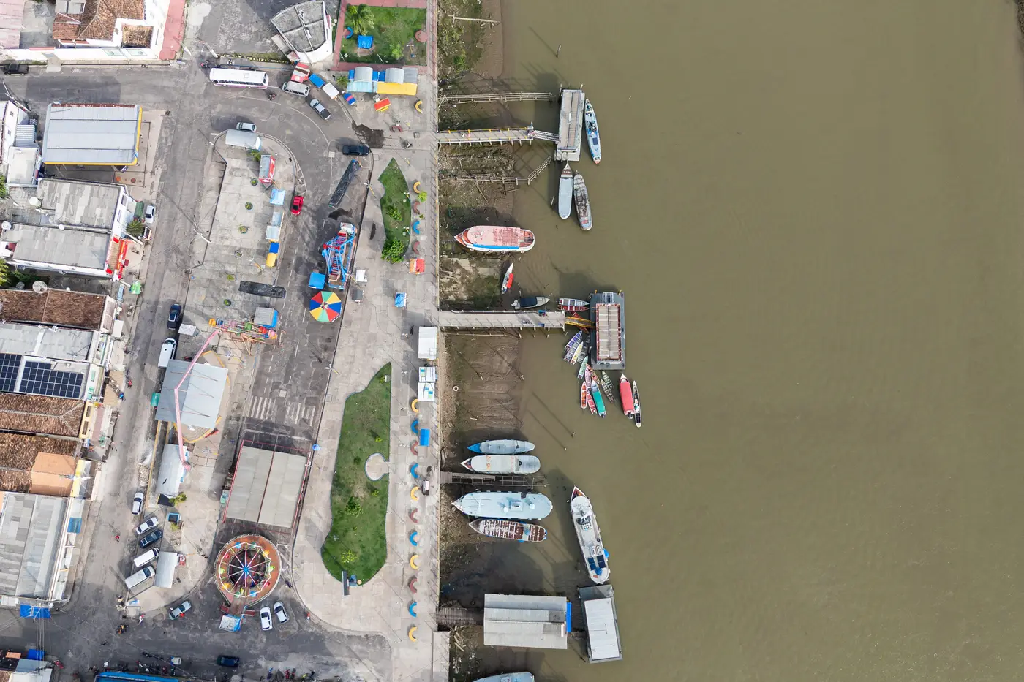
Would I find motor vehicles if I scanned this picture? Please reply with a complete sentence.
Yes, a motor vehicle appears in the view.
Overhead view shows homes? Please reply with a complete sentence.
Yes, a home can be made out from above.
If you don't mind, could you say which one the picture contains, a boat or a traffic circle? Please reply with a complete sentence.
The image shows a boat.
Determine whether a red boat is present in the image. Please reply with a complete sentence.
Yes, looking at the shot, I can spot a red boat.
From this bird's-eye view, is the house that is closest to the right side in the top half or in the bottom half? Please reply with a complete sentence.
The house that is closest to the right side is in the bottom half of the image.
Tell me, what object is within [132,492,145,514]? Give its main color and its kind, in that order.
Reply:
white vehicle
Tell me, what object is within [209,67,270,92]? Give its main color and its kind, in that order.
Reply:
white bus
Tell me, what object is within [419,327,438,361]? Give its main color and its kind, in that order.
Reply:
white tent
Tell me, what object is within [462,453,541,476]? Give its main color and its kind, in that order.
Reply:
white boat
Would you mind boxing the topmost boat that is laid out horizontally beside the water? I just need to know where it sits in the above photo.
[455,224,535,253]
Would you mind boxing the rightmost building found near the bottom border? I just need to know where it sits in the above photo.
[484,594,572,649]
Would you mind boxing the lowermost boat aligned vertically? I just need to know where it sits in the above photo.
[572,487,610,584]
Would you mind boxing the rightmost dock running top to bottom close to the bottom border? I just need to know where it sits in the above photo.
[578,585,623,664]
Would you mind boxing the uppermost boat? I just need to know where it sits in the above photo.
[584,97,601,165]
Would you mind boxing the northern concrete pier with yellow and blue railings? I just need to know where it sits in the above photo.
[438,128,533,147]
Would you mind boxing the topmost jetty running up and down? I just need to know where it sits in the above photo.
[556,89,585,163]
